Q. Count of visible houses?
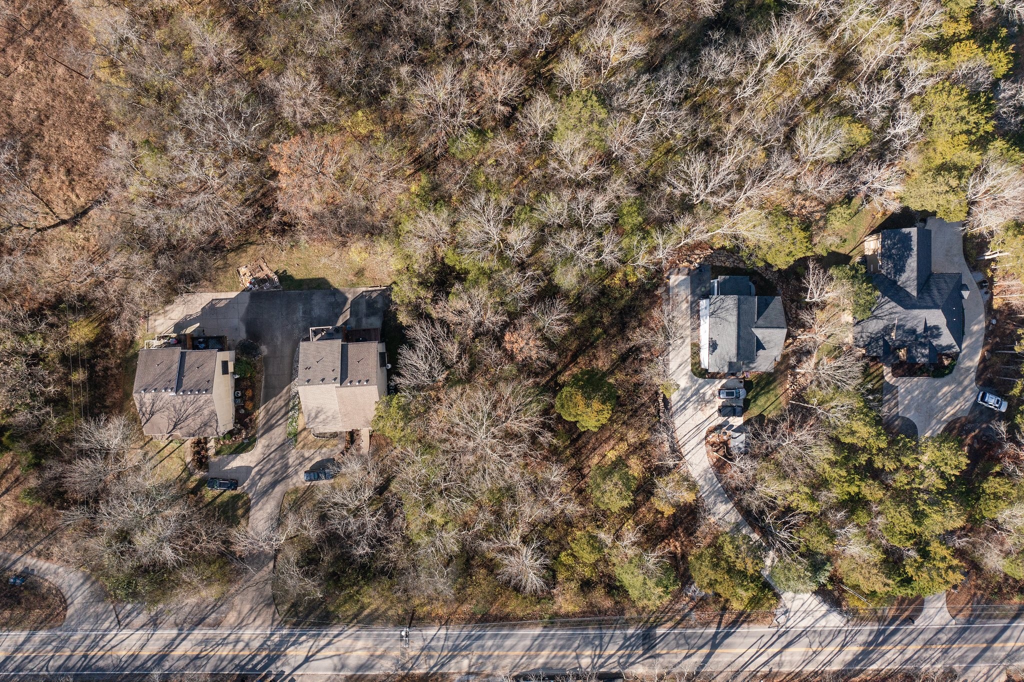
4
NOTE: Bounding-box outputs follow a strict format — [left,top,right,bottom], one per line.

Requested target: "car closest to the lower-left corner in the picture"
[209,476,241,491]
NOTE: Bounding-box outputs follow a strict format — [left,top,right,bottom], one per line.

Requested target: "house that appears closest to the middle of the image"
[298,325,386,433]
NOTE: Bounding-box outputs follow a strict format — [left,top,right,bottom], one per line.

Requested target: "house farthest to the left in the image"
[133,333,236,440]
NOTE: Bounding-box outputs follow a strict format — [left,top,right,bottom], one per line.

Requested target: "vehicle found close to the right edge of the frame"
[972,391,1005,410]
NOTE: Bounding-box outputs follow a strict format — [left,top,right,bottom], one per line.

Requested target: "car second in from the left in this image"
[303,467,335,482]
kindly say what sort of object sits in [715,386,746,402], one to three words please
car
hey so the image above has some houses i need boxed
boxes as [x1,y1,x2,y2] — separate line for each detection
[133,333,236,440]
[841,227,969,364]
[700,276,787,372]
[298,325,386,433]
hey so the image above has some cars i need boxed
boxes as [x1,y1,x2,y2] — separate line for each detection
[715,386,746,402]
[303,467,335,482]
[972,391,1005,410]
[209,476,241,491]
[713,402,743,417]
